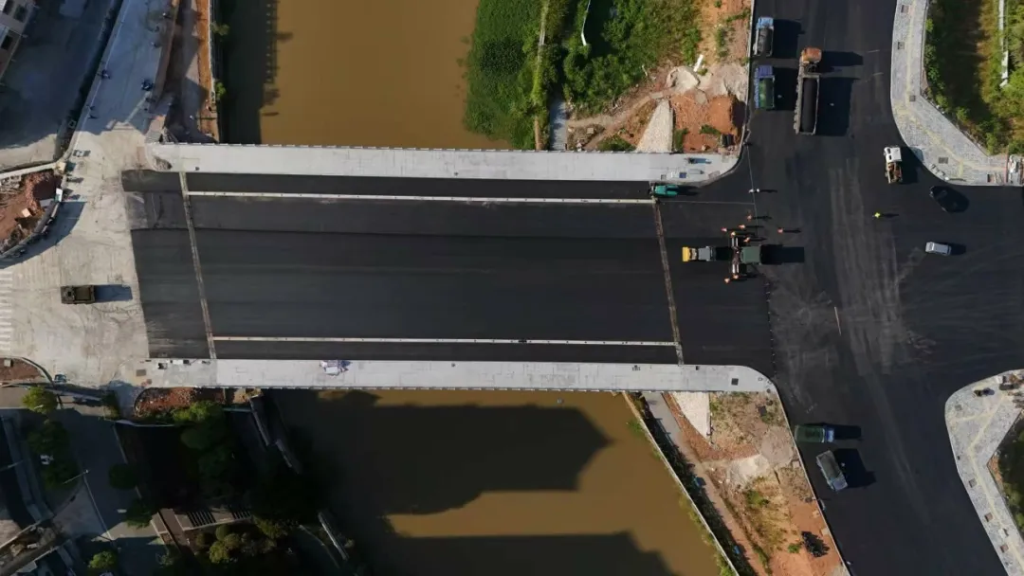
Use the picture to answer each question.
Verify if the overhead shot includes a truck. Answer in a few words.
Yes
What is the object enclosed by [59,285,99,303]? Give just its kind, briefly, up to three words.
vehicle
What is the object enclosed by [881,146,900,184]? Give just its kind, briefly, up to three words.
vehicle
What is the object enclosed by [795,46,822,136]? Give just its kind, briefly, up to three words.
truck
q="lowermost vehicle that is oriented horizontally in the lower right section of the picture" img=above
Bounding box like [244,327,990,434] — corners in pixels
[791,424,837,443]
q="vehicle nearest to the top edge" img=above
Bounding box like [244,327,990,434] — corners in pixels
[754,16,773,56]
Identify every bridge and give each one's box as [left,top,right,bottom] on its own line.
[142,142,777,394]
